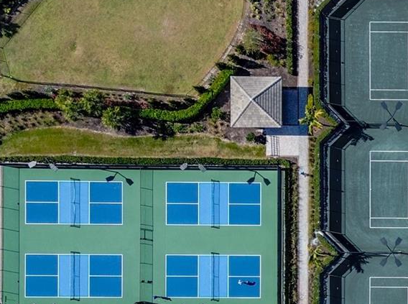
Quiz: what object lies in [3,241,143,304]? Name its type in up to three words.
sports court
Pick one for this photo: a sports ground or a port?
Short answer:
sports ground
